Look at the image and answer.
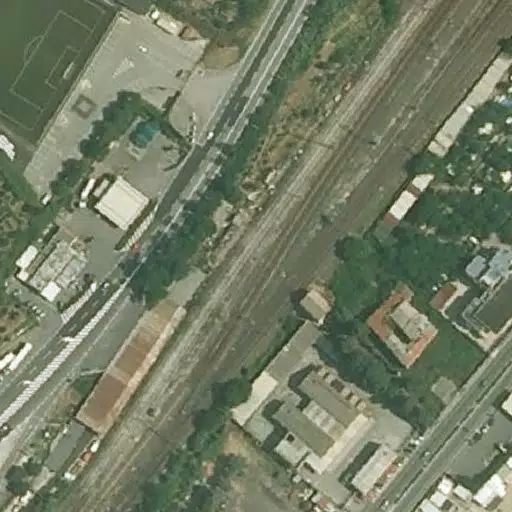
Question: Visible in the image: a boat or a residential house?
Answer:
residential house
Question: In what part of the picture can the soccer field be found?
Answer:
top left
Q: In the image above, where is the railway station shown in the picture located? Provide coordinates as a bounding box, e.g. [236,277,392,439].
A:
[74,271,207,438]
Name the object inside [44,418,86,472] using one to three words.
shed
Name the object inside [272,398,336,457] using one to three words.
building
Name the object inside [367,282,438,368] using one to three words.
house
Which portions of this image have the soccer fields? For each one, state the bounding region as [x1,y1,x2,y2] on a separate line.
[0,0,120,152]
